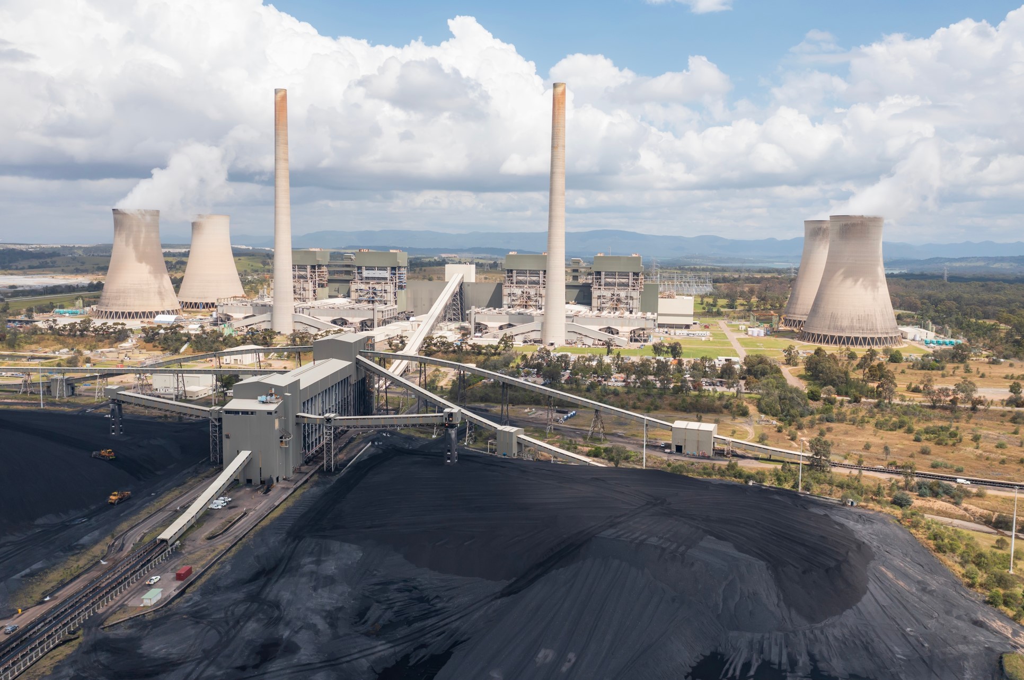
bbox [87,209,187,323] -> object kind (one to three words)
cooling tower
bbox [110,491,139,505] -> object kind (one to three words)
work vehicle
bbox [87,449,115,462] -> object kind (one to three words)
vehicle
